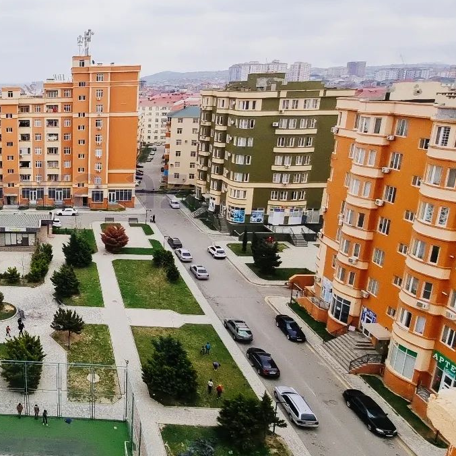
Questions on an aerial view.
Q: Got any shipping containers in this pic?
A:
No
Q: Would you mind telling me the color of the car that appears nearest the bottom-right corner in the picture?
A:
black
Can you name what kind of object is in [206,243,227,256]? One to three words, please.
vehicle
